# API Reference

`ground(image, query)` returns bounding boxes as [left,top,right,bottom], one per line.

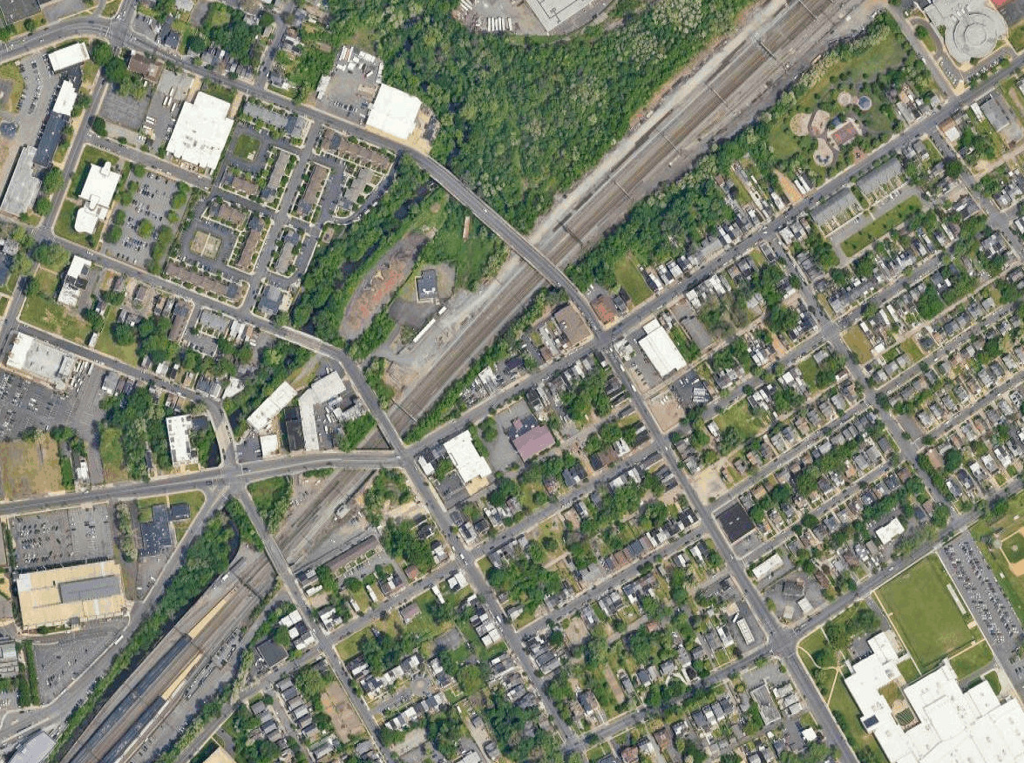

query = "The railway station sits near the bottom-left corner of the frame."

[66,579,257,763]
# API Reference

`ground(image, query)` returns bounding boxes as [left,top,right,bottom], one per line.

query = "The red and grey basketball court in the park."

[828,118,862,149]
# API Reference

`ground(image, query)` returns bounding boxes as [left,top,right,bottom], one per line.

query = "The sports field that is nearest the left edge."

[875,555,976,669]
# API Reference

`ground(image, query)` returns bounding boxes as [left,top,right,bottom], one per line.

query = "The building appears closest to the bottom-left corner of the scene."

[9,732,57,763]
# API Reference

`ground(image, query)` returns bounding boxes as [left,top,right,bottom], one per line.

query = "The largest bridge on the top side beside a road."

[420,157,578,297]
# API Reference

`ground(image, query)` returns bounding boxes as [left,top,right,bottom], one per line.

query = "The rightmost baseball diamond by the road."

[972,505,1024,586]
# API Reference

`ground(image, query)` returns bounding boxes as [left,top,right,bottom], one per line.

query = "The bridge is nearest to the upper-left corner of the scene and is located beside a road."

[276,324,321,353]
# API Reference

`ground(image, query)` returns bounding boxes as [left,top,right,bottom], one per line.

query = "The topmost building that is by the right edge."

[925,0,1009,66]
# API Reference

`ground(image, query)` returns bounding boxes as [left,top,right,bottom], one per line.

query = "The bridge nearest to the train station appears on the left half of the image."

[250,515,314,614]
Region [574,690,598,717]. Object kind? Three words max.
house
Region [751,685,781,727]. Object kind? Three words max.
building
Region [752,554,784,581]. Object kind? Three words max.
building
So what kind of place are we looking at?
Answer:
residential area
